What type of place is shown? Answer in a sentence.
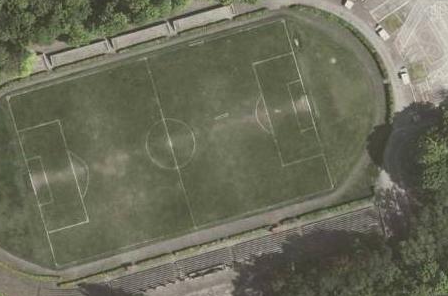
This looks like a sports ground.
